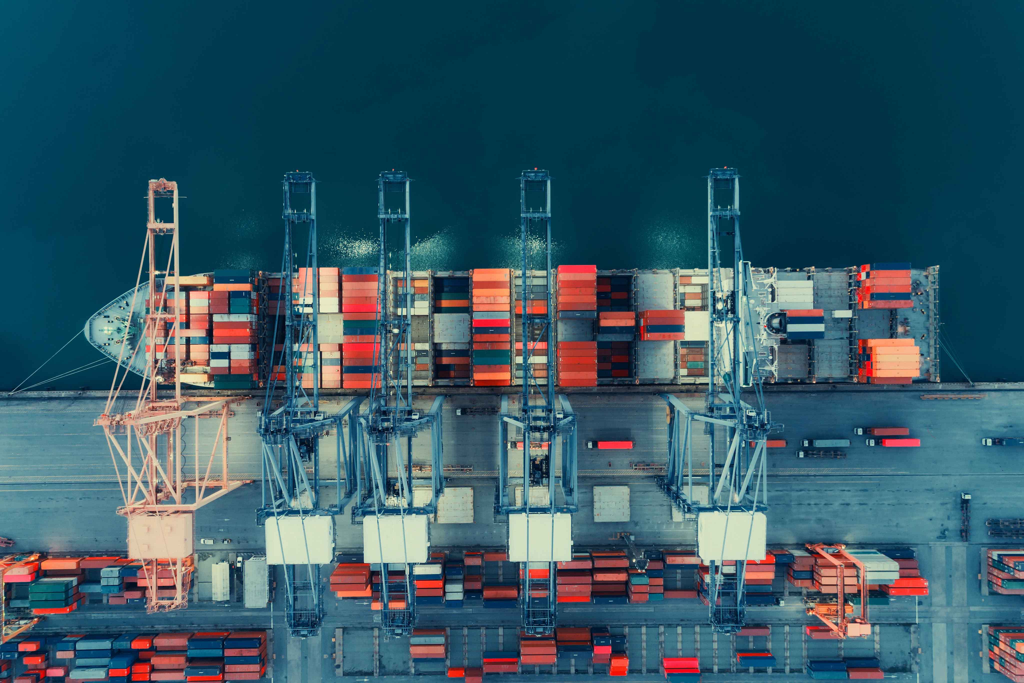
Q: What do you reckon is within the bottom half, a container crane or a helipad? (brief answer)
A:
container crane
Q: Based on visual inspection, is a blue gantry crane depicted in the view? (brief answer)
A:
Yes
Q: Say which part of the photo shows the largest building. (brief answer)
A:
bottom left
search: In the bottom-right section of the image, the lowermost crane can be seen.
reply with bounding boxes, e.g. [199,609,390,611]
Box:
[809,544,874,637]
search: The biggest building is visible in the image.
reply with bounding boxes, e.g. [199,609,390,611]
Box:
[244,554,279,608]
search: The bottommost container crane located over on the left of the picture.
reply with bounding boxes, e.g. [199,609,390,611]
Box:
[0,551,48,643]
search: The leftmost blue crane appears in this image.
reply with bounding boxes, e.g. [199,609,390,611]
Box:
[255,168,373,638]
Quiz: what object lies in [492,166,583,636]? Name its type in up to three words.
container crane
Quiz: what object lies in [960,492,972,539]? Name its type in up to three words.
vehicle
